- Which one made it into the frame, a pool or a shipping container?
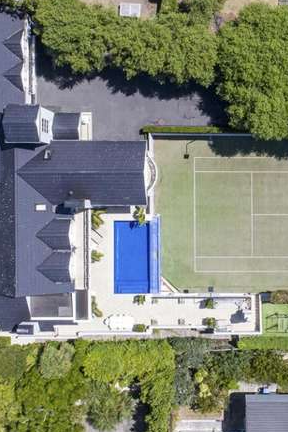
pool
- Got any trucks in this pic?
No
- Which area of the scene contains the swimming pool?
center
